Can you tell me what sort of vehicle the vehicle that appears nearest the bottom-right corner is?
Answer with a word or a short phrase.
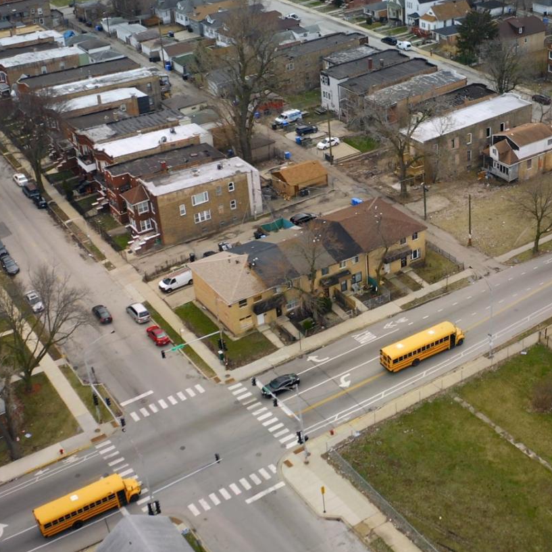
bus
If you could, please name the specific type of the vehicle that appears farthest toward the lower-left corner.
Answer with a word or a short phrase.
bus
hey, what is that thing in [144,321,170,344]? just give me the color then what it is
red car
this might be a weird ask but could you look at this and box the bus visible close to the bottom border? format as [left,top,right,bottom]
[31,472,148,544]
